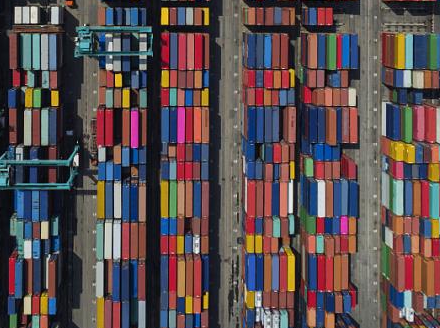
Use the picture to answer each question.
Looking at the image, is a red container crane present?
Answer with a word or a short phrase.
No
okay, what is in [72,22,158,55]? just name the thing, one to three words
container crane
